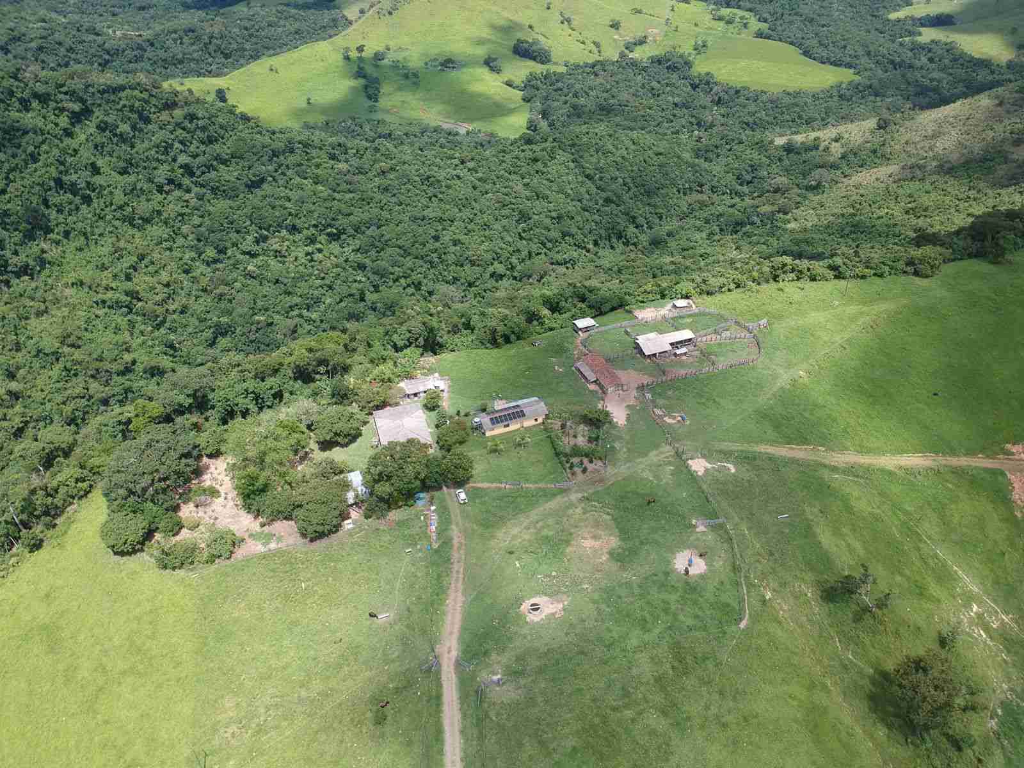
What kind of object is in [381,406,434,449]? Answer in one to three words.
house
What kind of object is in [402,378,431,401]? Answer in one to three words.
shed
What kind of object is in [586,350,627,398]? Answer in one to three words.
barn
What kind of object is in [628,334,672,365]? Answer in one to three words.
barn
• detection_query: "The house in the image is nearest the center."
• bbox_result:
[475,399,548,439]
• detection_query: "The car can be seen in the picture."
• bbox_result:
[456,490,468,505]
